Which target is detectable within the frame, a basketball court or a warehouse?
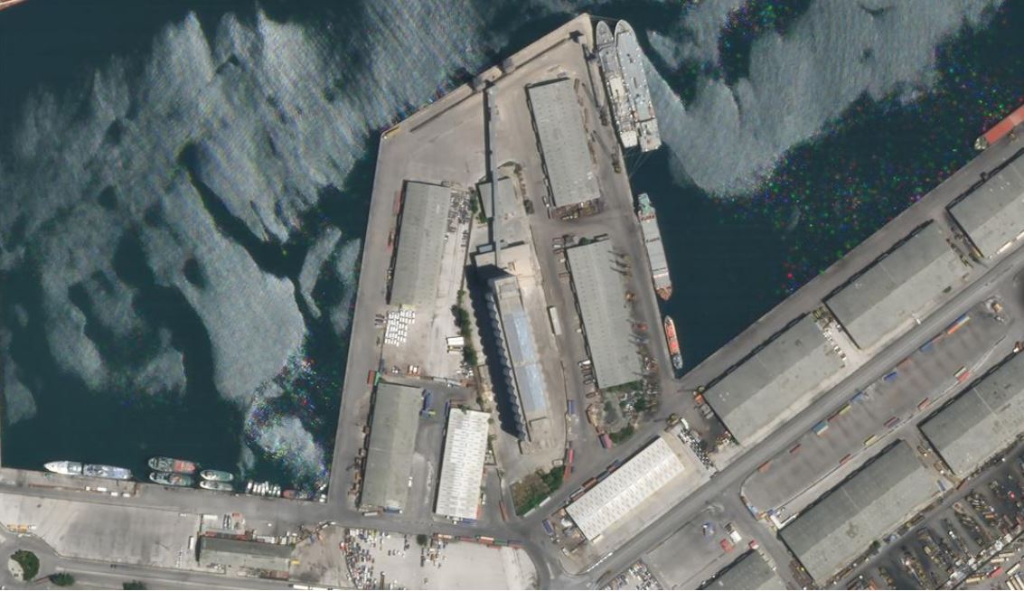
warehouse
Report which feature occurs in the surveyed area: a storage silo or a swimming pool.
storage silo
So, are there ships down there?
Yes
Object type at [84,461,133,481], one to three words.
ship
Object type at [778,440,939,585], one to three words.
warehouse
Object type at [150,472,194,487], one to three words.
vessel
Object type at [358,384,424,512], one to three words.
building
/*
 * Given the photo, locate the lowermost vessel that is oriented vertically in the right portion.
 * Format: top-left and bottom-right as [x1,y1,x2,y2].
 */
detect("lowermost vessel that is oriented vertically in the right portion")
[665,316,683,370]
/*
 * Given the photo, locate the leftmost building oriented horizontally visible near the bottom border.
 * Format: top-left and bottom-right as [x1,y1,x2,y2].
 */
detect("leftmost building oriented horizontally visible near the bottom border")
[200,537,295,571]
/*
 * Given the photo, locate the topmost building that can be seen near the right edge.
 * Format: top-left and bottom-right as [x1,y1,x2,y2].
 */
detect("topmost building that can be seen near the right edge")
[947,149,1024,258]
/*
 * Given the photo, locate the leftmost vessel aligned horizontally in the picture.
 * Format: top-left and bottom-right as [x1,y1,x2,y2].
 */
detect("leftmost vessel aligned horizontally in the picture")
[44,461,84,475]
